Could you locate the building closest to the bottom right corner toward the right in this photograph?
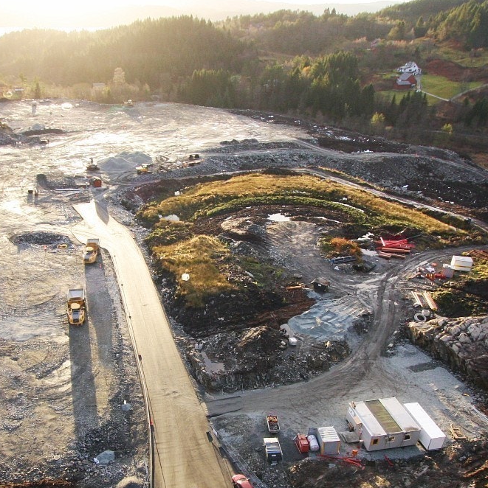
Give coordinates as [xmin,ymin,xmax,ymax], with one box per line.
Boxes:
[347,398,422,455]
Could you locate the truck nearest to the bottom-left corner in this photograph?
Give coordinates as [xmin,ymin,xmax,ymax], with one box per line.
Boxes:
[65,288,87,326]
